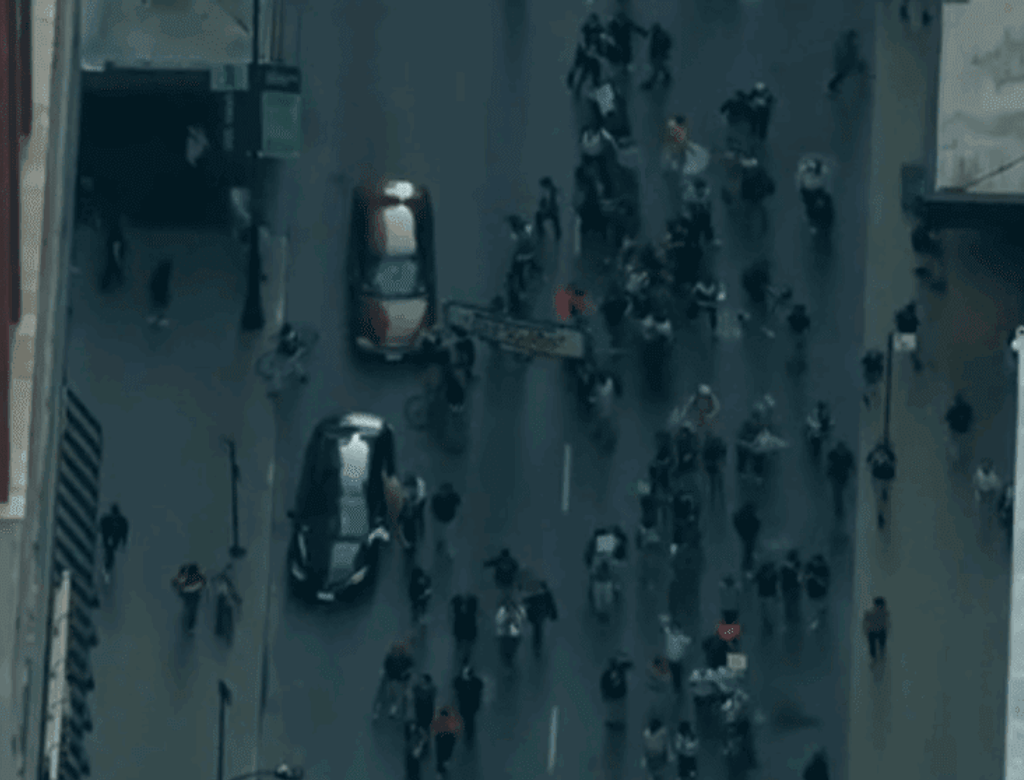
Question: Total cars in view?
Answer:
2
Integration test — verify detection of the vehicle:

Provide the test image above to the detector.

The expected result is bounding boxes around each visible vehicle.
[344,184,446,364]
[281,414,400,609]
